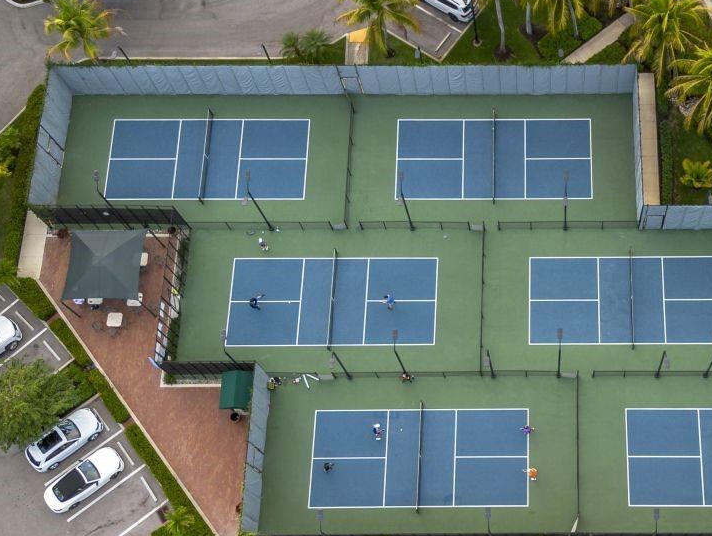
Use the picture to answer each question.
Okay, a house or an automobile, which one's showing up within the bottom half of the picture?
automobile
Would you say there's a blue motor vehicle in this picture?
No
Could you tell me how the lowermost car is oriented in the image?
at an angle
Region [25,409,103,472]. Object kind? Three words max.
car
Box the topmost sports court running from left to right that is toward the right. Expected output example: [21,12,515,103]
[347,93,638,229]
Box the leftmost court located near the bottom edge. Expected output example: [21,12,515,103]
[259,376,578,535]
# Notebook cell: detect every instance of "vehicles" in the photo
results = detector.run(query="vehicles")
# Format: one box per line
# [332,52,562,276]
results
[415,0,478,22]
[0,319,23,359]
[25,409,103,472]
[43,449,126,516]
